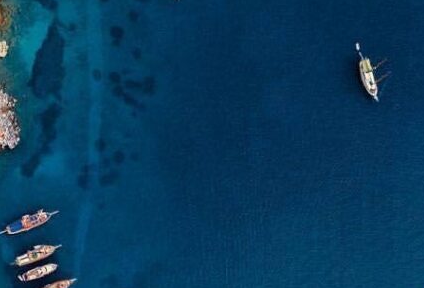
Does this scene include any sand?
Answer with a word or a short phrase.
No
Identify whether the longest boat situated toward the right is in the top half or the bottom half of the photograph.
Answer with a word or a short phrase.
top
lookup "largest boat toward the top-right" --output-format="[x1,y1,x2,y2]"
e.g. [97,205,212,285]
[360,49,386,99]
